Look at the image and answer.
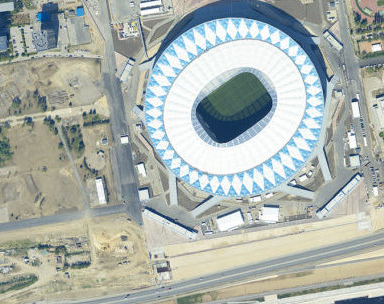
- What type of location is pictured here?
sports ground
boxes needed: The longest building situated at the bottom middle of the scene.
[143,207,197,239]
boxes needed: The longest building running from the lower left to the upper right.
[317,173,362,218]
